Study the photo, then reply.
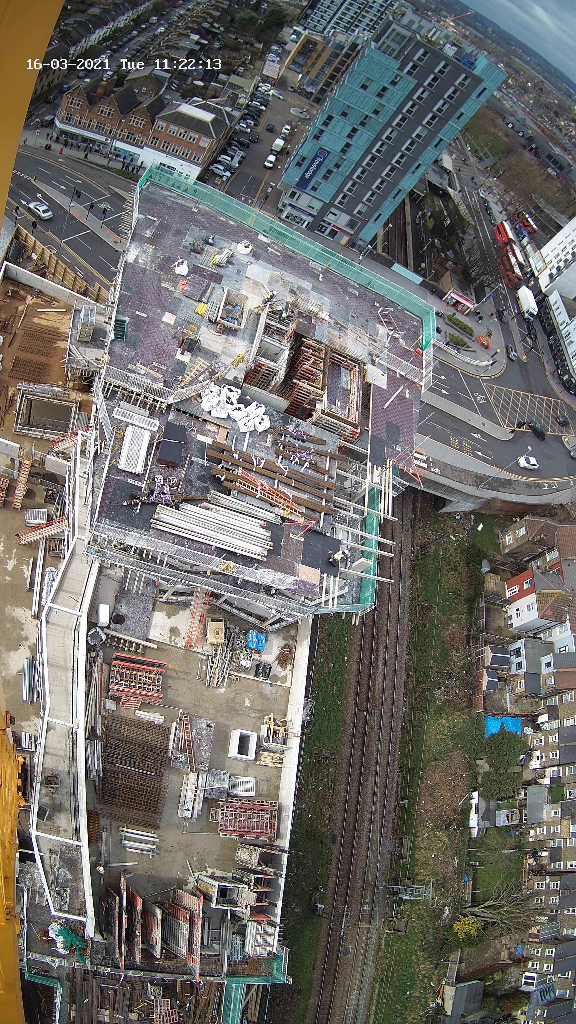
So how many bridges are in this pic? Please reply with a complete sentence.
There is 1 bridge in the image.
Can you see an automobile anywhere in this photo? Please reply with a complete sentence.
Yes, there's an automobile here.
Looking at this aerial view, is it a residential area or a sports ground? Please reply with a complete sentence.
What you see here is a residential area.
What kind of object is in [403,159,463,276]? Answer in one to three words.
train station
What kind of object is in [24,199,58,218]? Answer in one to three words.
car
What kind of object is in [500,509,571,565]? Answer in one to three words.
house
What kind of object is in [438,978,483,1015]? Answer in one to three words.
shed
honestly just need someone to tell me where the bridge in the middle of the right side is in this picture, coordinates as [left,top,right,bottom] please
[384,464,477,515]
